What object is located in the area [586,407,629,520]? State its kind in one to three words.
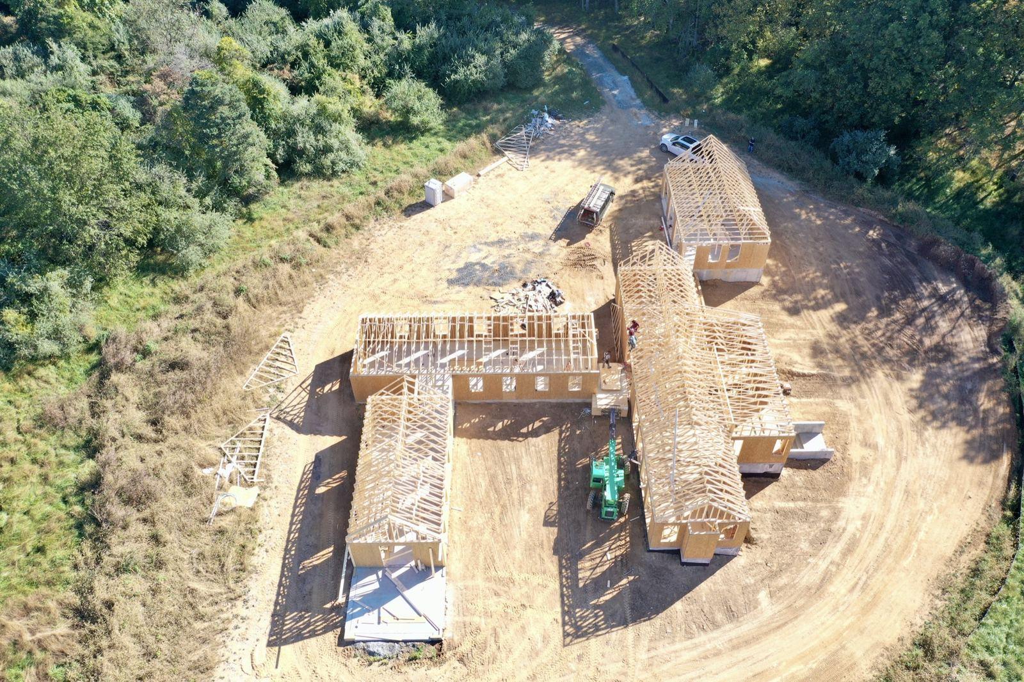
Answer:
work vehicle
